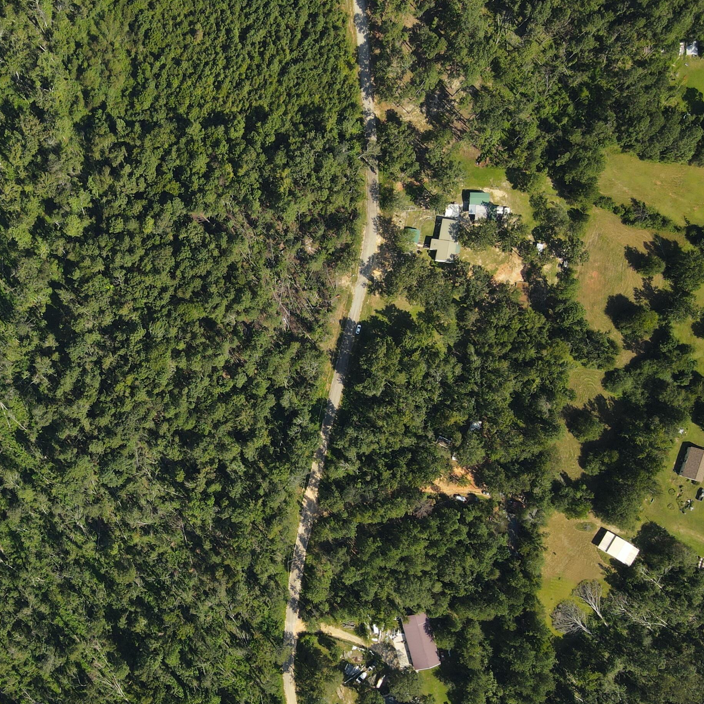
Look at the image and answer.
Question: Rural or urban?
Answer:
rural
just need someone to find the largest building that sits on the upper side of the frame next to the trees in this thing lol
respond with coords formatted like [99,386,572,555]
[429,218,460,263]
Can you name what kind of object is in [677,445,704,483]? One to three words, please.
house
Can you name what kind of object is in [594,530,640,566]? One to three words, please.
barn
